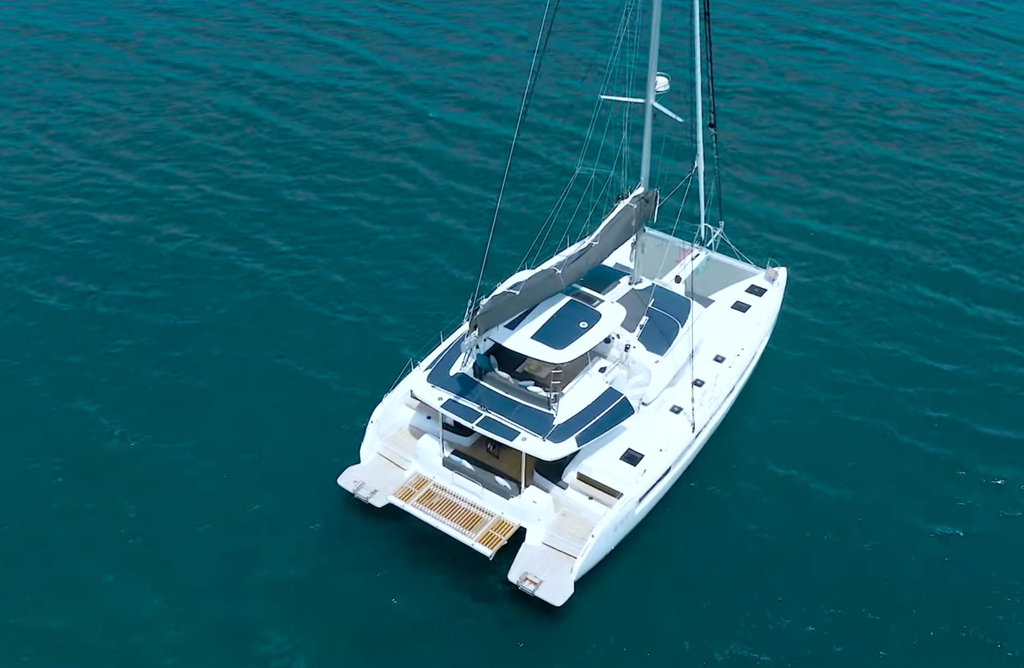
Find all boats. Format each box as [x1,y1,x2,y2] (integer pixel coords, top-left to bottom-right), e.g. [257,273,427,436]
[340,0,786,608]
